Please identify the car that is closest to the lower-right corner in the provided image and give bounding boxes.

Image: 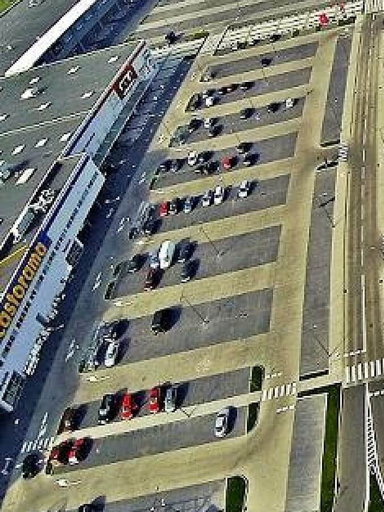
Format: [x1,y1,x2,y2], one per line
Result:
[212,409,231,441]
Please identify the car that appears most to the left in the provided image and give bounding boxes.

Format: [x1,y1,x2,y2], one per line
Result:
[11,447,50,482]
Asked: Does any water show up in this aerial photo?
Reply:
No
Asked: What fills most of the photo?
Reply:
paved ground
